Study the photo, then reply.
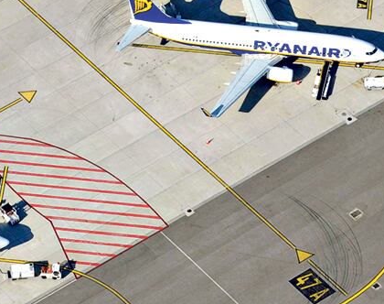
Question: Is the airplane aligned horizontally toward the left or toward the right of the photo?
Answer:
right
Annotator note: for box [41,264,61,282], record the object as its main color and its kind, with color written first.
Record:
white work vehicle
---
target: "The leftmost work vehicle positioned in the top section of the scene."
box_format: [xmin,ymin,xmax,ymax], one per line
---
[314,60,334,95]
